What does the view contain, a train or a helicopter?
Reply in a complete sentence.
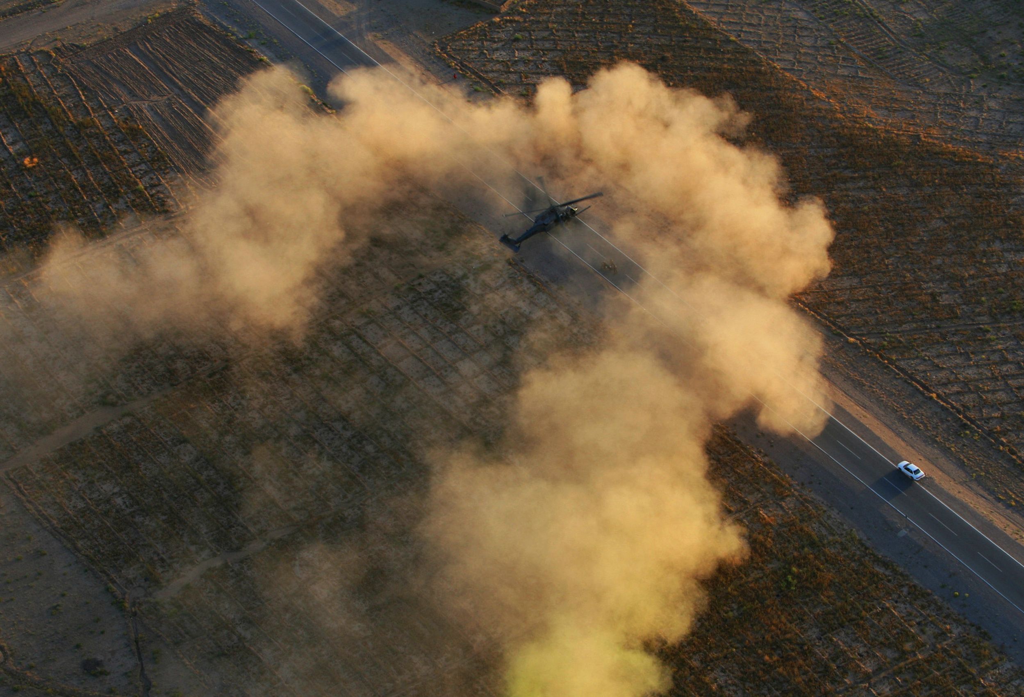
There is a helicopter in the scene.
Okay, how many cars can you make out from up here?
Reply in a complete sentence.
The photo contains exactly 1 car.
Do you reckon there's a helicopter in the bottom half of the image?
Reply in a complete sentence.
No, the scene shows no helicopter in the bottom half of the image.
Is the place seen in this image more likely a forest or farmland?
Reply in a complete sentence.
The area seen from above is farmland.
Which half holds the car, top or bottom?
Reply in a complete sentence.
It is in the bottom half that the car appears.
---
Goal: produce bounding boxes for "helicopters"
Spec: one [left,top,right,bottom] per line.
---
[494,177,601,252]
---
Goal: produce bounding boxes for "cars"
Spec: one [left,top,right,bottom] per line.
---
[898,459,925,480]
